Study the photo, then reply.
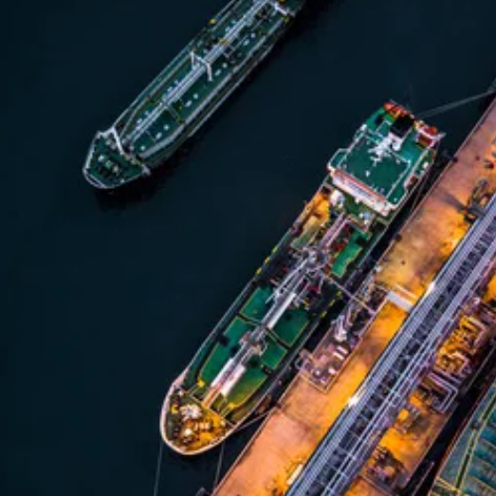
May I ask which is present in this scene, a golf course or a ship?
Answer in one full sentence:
Looking from above, you can make out a ship.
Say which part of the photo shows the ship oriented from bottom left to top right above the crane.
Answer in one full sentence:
Look in the top portion of the view to spot the ship oriented from bottom left to top right above the crane.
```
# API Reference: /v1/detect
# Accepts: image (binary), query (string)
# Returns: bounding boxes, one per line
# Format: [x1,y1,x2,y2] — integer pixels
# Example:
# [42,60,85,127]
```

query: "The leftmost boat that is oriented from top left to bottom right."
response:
[388,98,404,112]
